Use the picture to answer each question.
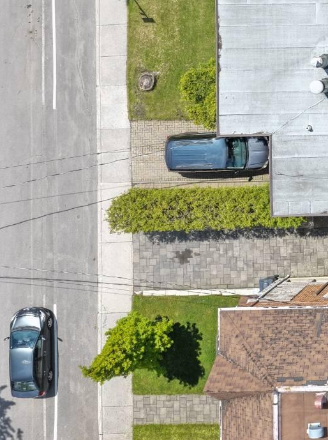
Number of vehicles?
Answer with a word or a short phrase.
2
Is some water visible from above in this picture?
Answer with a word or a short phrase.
No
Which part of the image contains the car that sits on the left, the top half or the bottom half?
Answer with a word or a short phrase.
bottom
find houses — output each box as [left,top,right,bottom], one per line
[215,0,328,216]
[202,272,328,440]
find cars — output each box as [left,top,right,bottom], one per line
[4,303,59,399]
[162,127,271,174]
